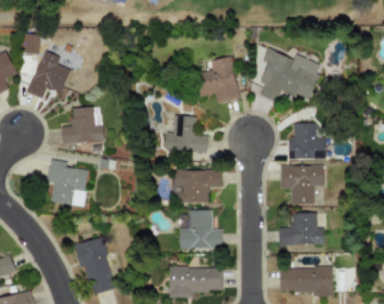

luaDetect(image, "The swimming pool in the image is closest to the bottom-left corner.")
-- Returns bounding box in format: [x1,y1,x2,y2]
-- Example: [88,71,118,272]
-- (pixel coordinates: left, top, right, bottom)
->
[152,211,172,232]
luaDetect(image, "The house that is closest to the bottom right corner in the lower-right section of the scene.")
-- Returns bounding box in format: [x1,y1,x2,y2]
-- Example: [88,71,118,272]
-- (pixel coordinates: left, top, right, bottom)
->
[280,268,334,297]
